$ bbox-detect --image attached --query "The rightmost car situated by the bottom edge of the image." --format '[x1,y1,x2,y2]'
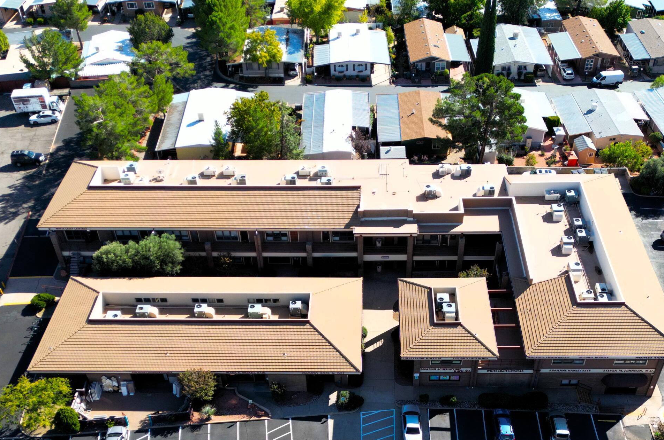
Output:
[546,409,571,440]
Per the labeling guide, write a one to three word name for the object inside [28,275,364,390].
building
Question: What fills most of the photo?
buildings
